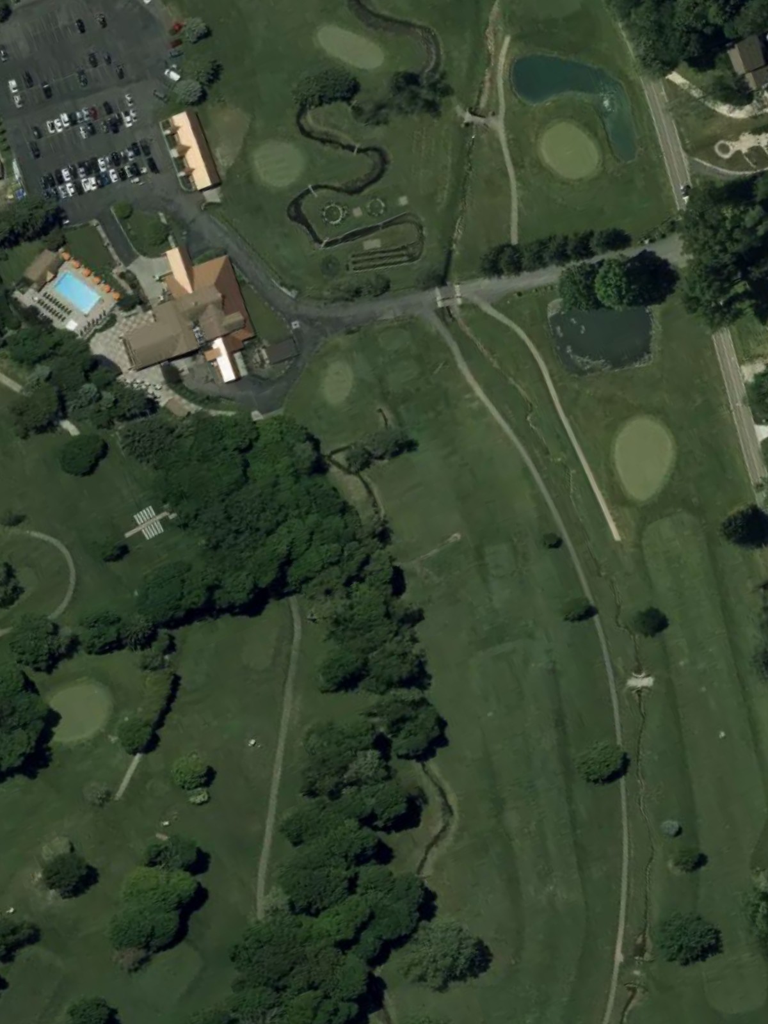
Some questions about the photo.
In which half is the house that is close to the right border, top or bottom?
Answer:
top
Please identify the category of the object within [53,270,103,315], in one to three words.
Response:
swimming pool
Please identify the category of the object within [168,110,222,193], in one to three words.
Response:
building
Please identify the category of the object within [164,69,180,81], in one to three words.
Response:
vehicle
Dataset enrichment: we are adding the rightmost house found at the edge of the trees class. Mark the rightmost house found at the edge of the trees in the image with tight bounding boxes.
[729,40,768,96]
